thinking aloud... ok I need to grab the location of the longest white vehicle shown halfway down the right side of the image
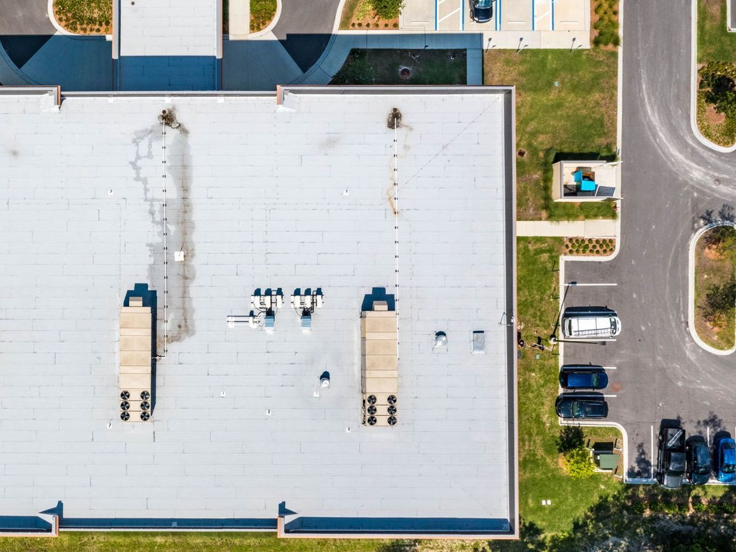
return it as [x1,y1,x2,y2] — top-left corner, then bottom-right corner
[562,315,619,340]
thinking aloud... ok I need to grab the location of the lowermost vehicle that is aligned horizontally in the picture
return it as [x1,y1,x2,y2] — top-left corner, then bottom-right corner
[556,396,610,420]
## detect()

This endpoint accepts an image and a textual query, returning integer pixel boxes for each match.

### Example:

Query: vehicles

[686,442,713,486]
[562,315,619,340]
[561,367,607,390]
[556,396,610,420]
[658,429,689,488]
[712,440,736,484]
[468,0,491,19]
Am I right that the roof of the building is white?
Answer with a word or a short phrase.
Yes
